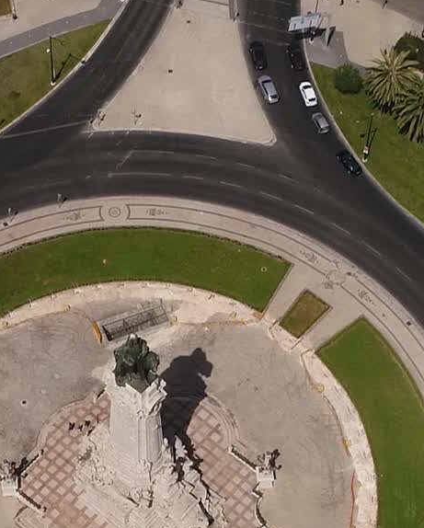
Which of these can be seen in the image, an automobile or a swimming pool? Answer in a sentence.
Visible in the photo is an automobile.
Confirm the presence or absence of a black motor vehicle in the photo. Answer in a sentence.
Yes, this view includes a black motor vehicle.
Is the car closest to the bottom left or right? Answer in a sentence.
You can find the car closest to the bottom on the right side of the picture.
